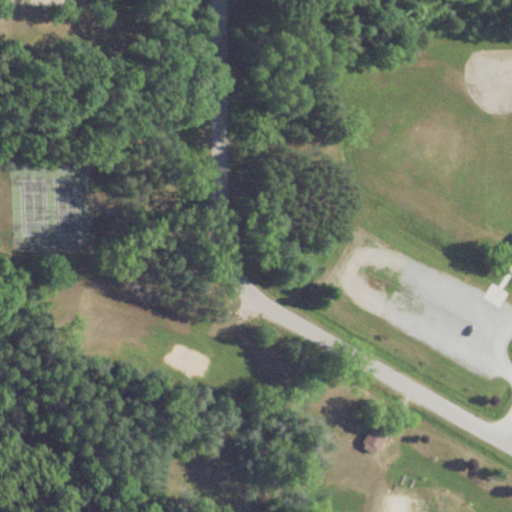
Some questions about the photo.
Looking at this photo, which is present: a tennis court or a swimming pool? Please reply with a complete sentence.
The image shows a tennis court.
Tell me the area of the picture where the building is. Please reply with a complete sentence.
The building appears toward the bottom right of the photo.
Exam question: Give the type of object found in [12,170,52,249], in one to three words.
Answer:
tennis court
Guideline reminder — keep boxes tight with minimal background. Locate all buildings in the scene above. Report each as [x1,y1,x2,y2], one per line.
[362,434,390,456]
